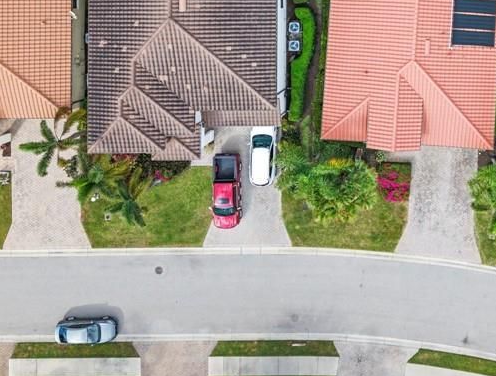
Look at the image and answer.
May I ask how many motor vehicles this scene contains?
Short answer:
3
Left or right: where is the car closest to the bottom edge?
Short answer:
left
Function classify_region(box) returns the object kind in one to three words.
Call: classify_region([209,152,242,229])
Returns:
truck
